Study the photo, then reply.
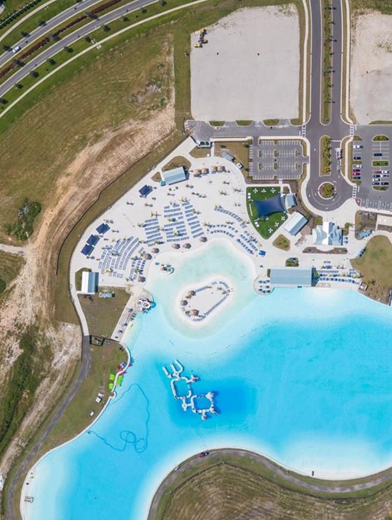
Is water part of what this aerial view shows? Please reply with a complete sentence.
Yes, water shows up in the scene.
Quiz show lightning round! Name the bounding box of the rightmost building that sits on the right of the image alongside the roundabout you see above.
[312,221,343,245]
